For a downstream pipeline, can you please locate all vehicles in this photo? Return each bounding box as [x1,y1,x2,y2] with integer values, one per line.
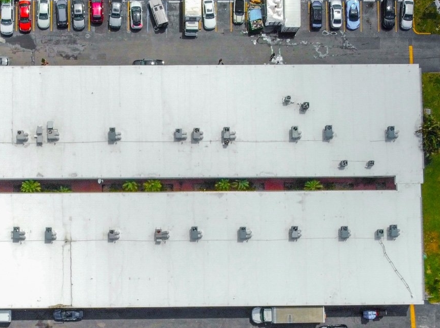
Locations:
[109,0,122,31]
[16,0,32,34]
[344,0,361,31]
[398,0,415,31]
[0,310,13,324]
[129,2,143,31]
[149,0,169,30]
[0,0,15,37]
[379,0,397,31]
[328,0,344,30]
[54,0,69,29]
[89,0,105,25]
[53,309,84,322]
[248,306,325,325]
[309,1,322,31]
[182,0,202,41]
[202,0,216,31]
[72,0,86,32]
[0,55,10,67]
[36,0,51,31]
[133,58,164,66]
